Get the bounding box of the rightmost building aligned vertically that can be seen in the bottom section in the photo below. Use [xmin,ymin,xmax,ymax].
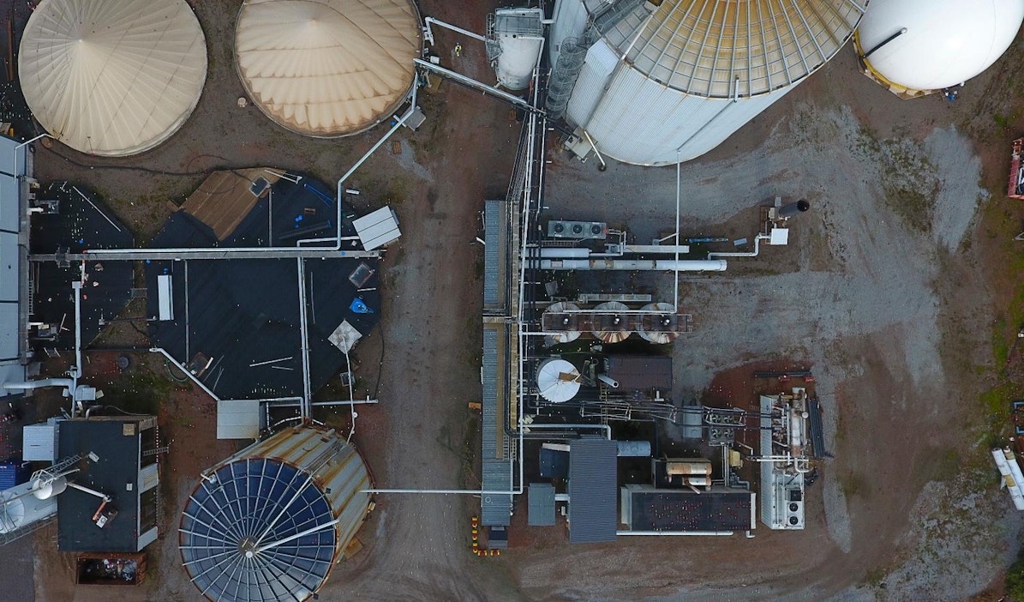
[565,437,617,542]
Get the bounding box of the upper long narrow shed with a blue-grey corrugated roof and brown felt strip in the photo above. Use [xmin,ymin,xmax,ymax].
[482,201,505,311]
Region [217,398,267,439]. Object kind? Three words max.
shed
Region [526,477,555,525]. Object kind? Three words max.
shed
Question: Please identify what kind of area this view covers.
industrial area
